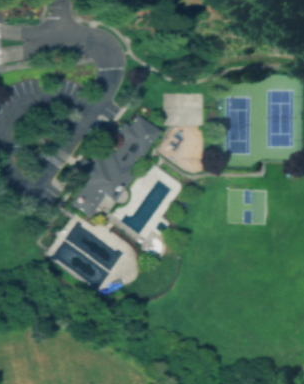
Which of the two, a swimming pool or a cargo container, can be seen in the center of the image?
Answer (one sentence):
The one visible in the center of the image is a swimming pool.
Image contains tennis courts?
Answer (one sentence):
Yes, a tennis court is visible in the scene.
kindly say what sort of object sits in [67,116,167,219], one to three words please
building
